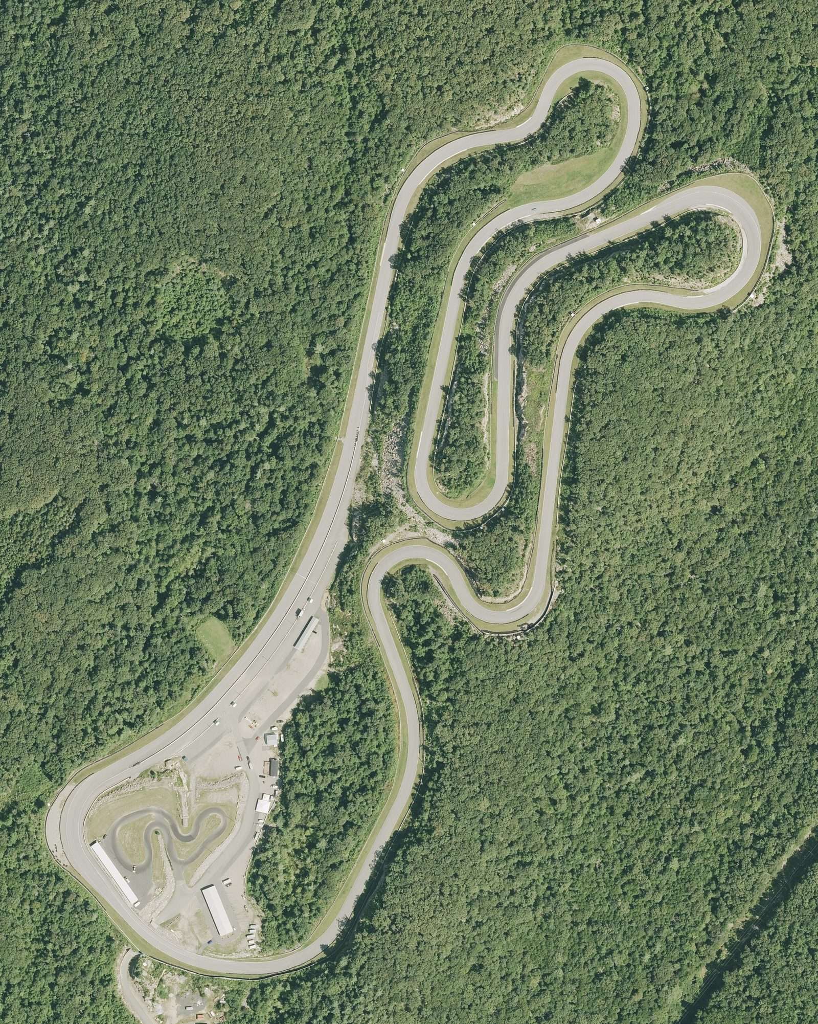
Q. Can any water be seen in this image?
No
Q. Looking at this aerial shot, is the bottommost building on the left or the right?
left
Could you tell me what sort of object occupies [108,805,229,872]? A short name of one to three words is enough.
race track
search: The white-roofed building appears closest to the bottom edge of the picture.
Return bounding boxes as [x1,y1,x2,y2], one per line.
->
[204,889,236,940]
